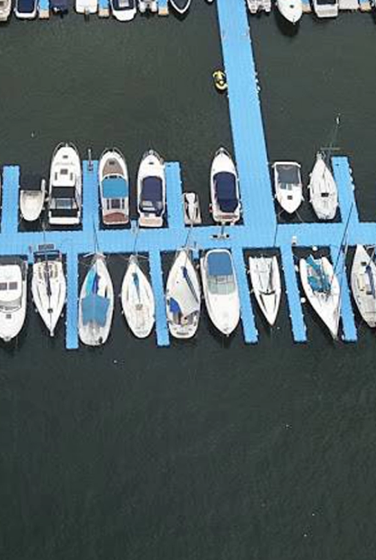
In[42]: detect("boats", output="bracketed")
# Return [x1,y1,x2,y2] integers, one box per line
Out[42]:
[137,149,167,234]
[75,0,99,20]
[31,244,69,340]
[19,176,49,223]
[295,240,346,339]
[0,257,28,340]
[139,0,160,18]
[119,226,156,341]
[310,0,348,23]
[244,0,270,19]
[306,114,340,223]
[271,159,302,222]
[78,235,115,353]
[107,0,137,26]
[275,0,305,26]
[162,221,201,346]
[171,0,190,16]
[199,248,244,339]
[47,140,84,233]
[346,222,376,335]
[184,194,200,226]
[13,0,39,23]
[246,236,290,324]
[98,148,131,235]
[51,0,69,14]
[208,148,247,230]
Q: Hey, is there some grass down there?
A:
No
